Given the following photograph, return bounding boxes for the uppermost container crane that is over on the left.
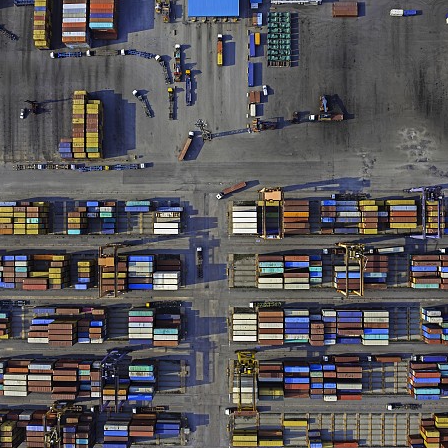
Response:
[99,244,132,298]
